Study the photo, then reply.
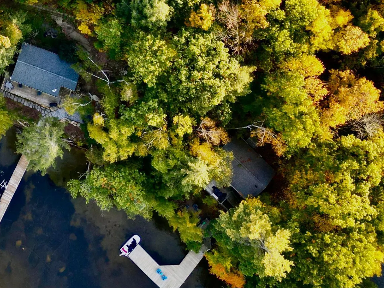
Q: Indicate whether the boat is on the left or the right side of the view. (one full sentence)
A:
The boat appears in the left half of the scene.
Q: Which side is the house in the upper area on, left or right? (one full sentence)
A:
It is on the left.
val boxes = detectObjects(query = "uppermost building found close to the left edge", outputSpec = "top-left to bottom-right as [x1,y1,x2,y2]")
[1,41,81,108]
